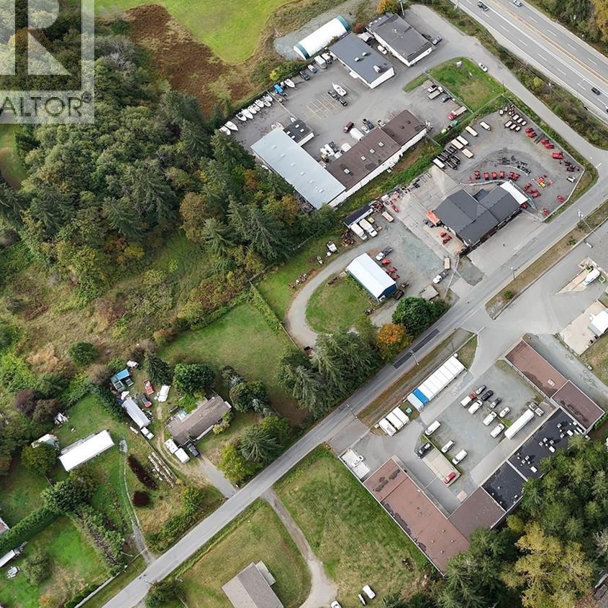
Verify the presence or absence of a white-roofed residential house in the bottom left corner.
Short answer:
Yes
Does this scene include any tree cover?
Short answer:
Yes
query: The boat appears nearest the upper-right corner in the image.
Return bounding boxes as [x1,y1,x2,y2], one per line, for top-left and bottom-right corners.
[332,80,347,93]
